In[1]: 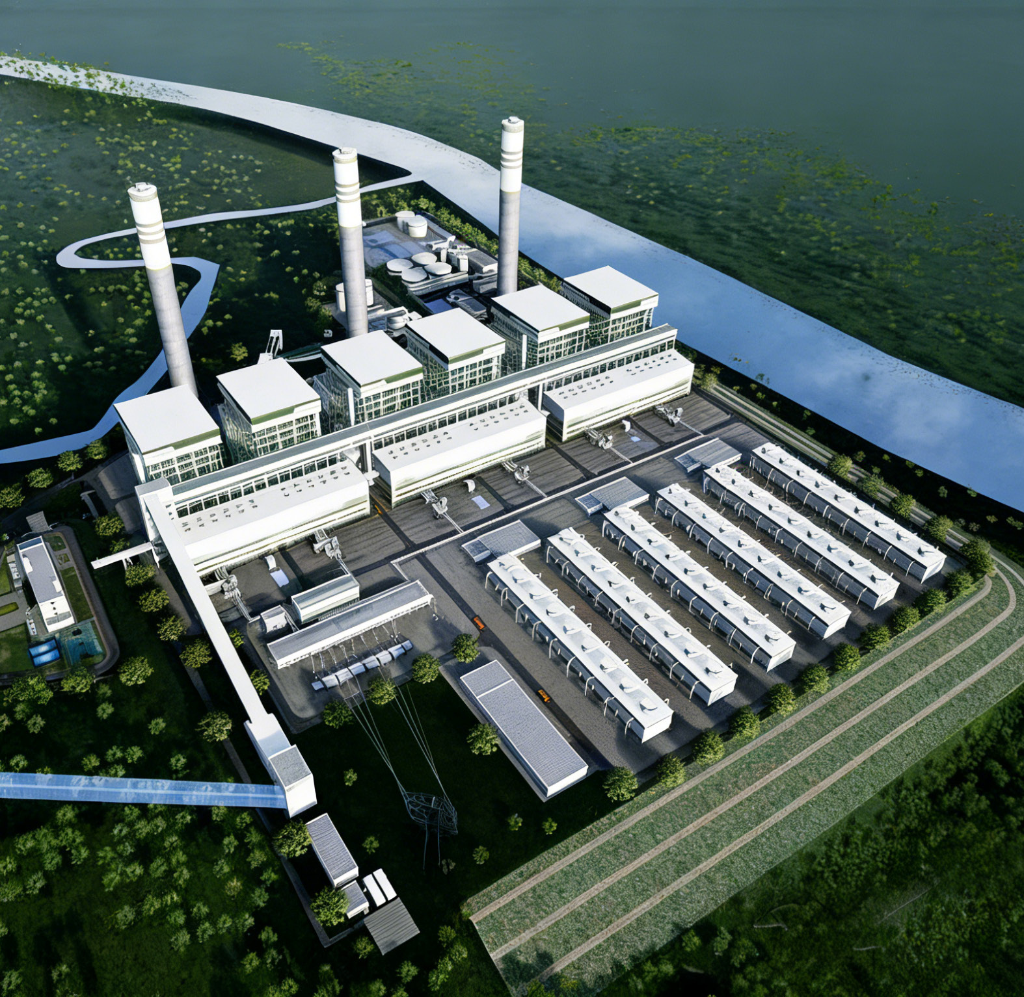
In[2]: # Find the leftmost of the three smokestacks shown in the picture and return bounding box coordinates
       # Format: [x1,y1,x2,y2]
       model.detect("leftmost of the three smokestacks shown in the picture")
[123,183,199,400]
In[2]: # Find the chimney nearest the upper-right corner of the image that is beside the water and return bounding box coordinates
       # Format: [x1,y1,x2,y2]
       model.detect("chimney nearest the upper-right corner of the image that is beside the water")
[497,117,527,298]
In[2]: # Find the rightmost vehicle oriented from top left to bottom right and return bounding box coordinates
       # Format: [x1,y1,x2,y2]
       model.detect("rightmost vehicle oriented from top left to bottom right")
[537,685,553,703]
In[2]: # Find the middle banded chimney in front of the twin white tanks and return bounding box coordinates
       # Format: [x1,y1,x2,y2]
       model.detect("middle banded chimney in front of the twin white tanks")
[330,147,370,340]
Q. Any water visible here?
Yes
